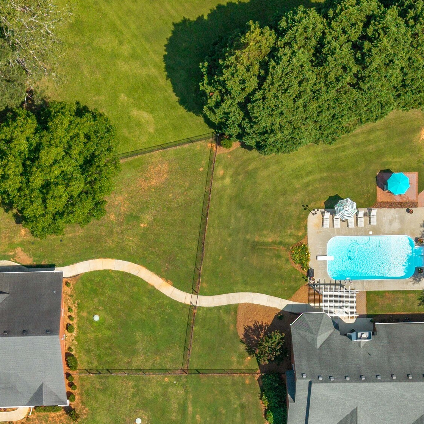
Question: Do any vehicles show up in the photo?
No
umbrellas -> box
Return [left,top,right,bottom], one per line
[334,197,357,219]
[388,172,410,194]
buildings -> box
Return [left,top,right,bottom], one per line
[286,311,424,424]
[0,271,69,414]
